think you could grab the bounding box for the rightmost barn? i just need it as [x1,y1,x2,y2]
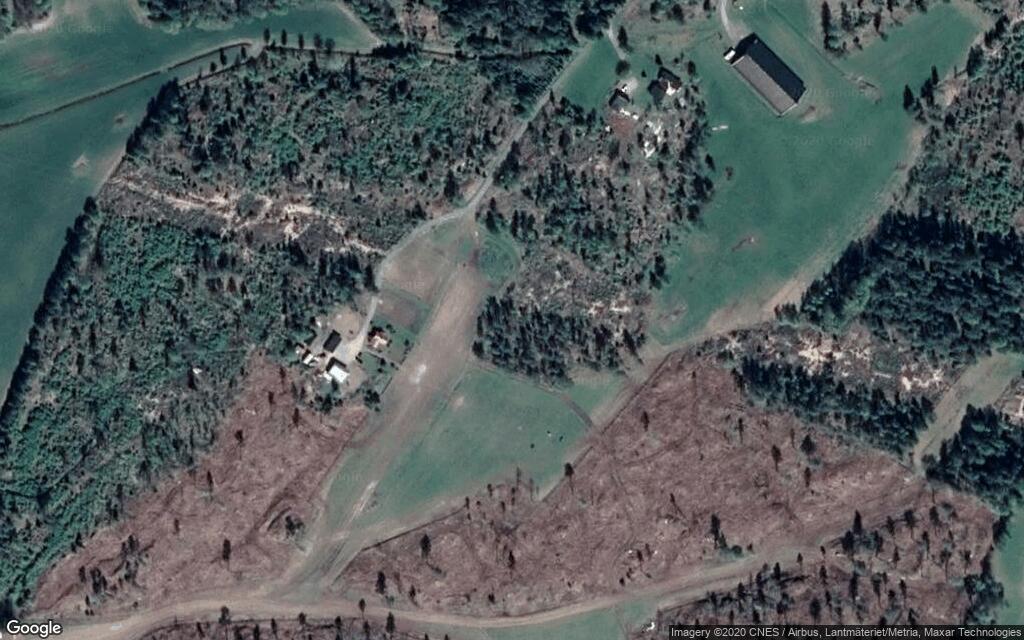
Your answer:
[730,39,806,117]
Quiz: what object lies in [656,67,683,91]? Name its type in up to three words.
house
